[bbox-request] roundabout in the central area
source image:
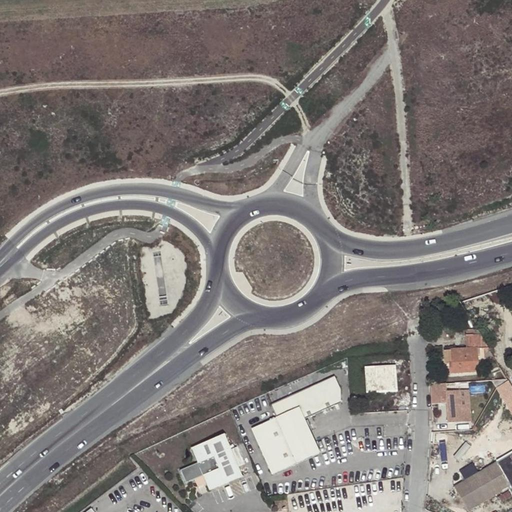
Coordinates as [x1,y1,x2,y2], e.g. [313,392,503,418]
[209,194,341,326]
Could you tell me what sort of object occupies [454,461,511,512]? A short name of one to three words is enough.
barn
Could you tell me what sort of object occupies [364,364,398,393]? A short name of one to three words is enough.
building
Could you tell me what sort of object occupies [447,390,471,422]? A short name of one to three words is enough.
house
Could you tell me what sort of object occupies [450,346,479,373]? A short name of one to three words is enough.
house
